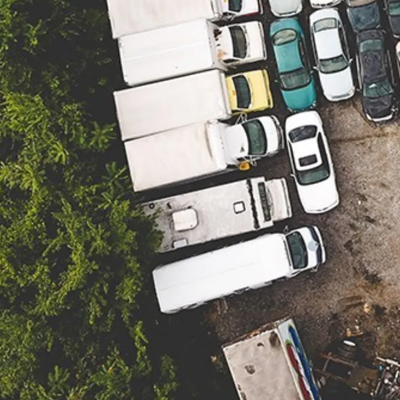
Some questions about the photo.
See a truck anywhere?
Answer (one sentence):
Yes, the image includes a truck.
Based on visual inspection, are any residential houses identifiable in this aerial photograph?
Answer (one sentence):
No, the photo shows no residential house.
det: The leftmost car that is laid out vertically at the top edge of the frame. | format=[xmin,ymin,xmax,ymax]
[268,15,320,113]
